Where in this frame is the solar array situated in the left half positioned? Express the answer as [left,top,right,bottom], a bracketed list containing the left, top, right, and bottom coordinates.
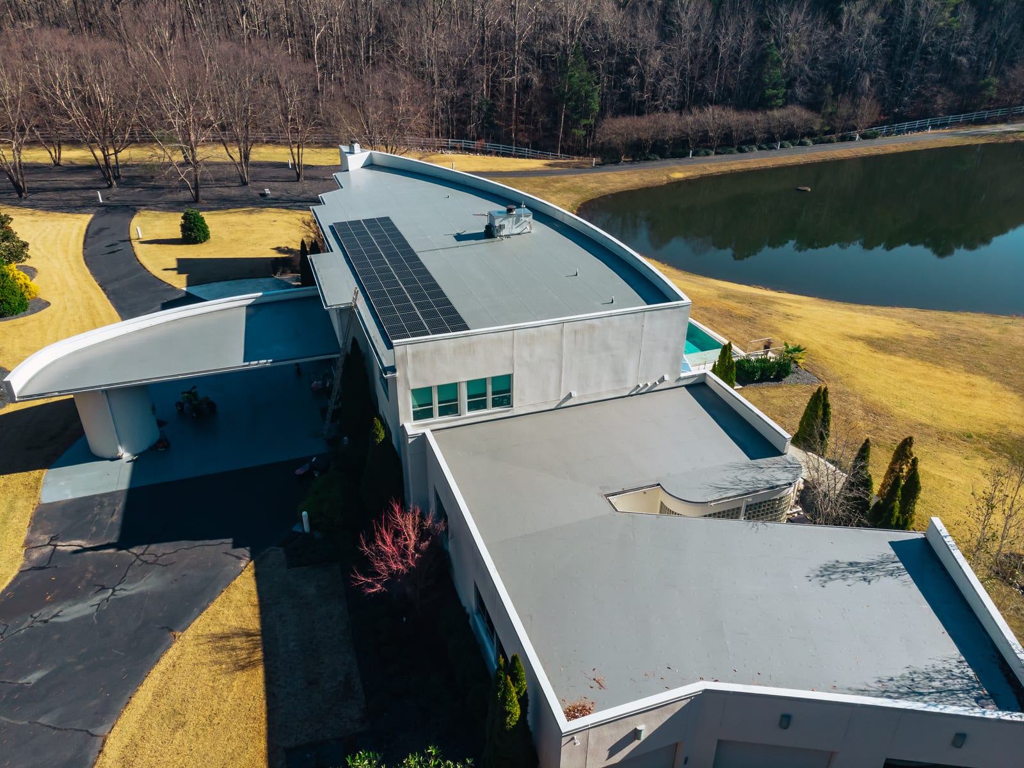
[333,216,469,343]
